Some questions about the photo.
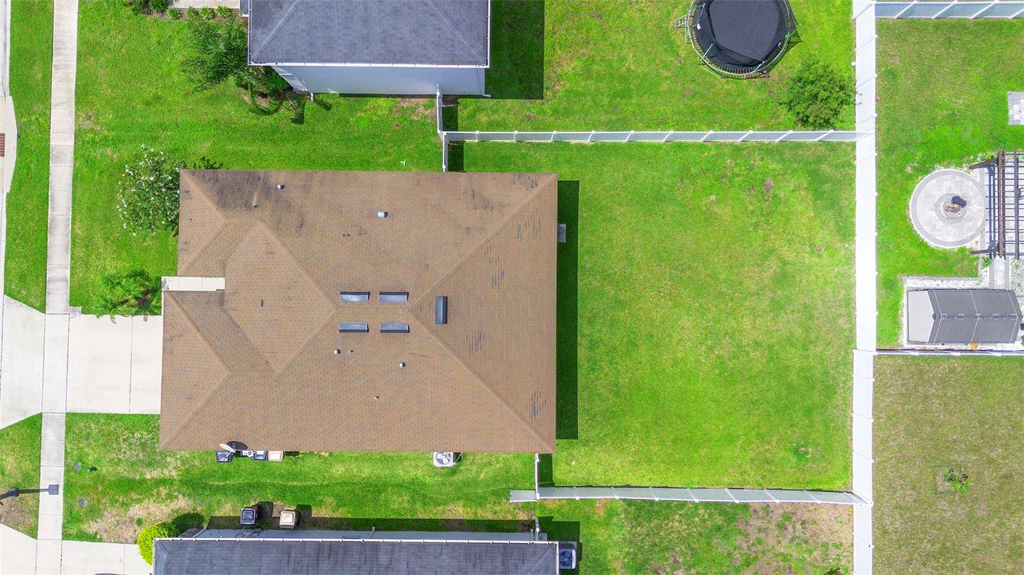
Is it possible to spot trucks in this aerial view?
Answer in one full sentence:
No, the picture doesn't show any truck.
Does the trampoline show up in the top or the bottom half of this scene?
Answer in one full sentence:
It is in the top half that the trampoline appears.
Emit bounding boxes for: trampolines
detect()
[669,0,802,78]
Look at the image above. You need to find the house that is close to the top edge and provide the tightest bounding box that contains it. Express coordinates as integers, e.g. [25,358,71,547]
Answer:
[238,0,492,102]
